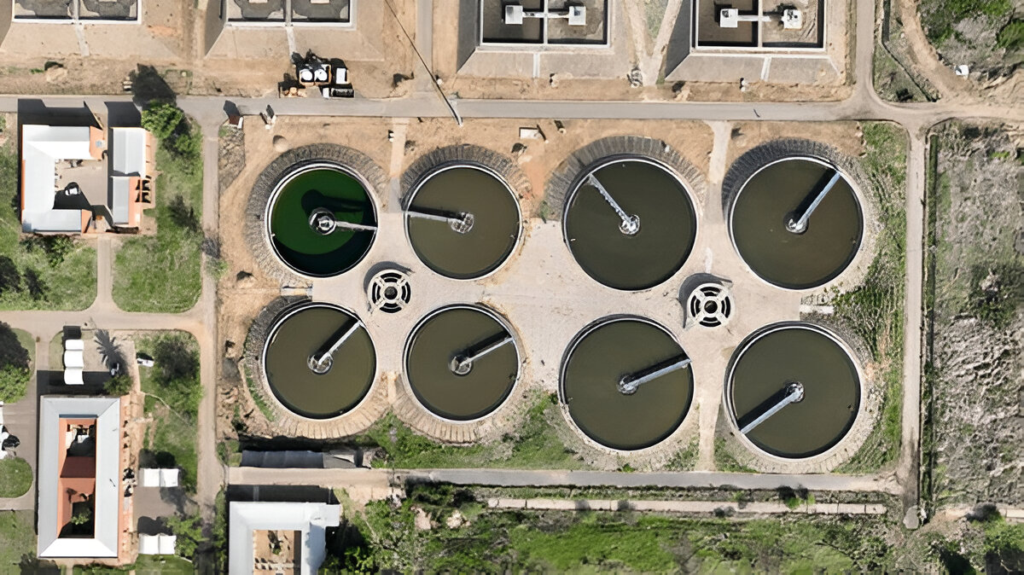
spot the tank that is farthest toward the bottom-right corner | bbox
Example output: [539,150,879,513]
[718,312,874,474]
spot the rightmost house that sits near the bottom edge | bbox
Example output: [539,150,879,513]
[229,500,343,575]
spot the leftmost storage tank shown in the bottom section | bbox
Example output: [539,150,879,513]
[245,295,393,439]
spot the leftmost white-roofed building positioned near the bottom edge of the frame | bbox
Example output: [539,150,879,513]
[39,395,126,558]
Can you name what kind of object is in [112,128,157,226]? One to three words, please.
house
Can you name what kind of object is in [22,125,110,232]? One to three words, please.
house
